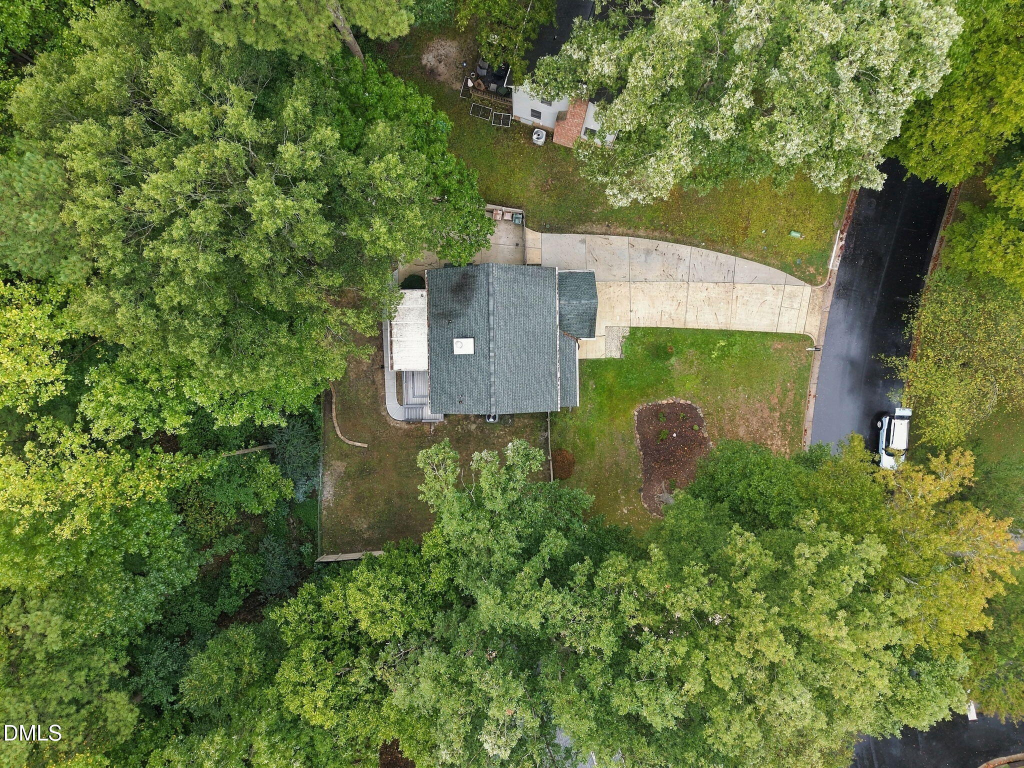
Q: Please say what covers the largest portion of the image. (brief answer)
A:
trees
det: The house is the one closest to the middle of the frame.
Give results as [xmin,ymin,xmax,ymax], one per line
[387,263,596,414]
